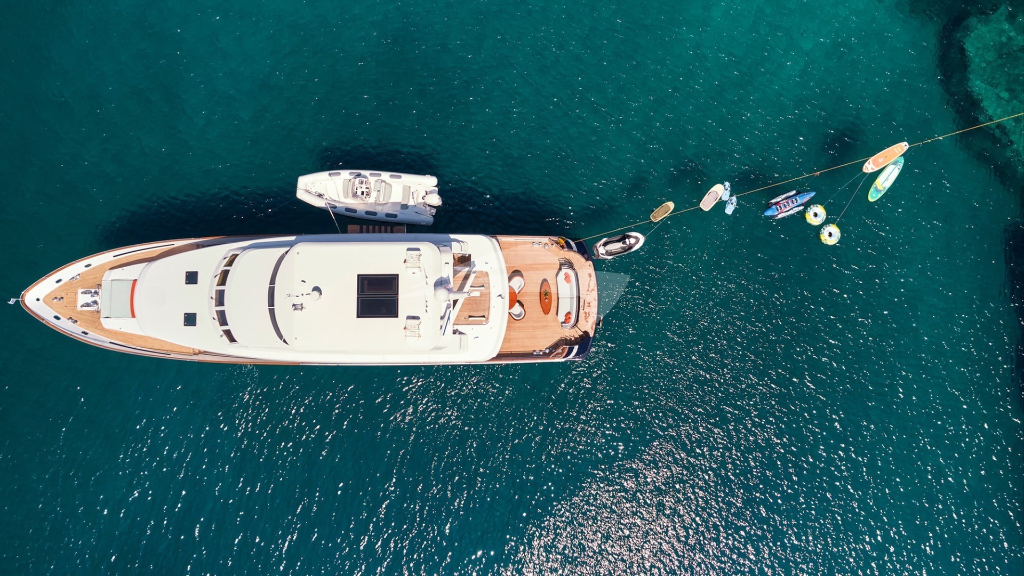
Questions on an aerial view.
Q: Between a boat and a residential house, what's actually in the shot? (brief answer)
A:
boat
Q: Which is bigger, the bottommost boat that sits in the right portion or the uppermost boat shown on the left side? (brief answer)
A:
the uppermost boat shown on the left side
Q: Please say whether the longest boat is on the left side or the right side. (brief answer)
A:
left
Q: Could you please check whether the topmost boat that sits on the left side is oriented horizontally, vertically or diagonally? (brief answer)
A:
horizontally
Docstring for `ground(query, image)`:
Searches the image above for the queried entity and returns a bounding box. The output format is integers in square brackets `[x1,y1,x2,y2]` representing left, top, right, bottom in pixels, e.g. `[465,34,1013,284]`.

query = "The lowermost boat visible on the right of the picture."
[592,232,646,259]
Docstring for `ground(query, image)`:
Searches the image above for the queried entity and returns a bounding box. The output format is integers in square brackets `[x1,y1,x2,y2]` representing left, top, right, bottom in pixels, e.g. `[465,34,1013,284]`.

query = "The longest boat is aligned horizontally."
[1,225,602,367]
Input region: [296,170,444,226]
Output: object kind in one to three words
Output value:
boat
